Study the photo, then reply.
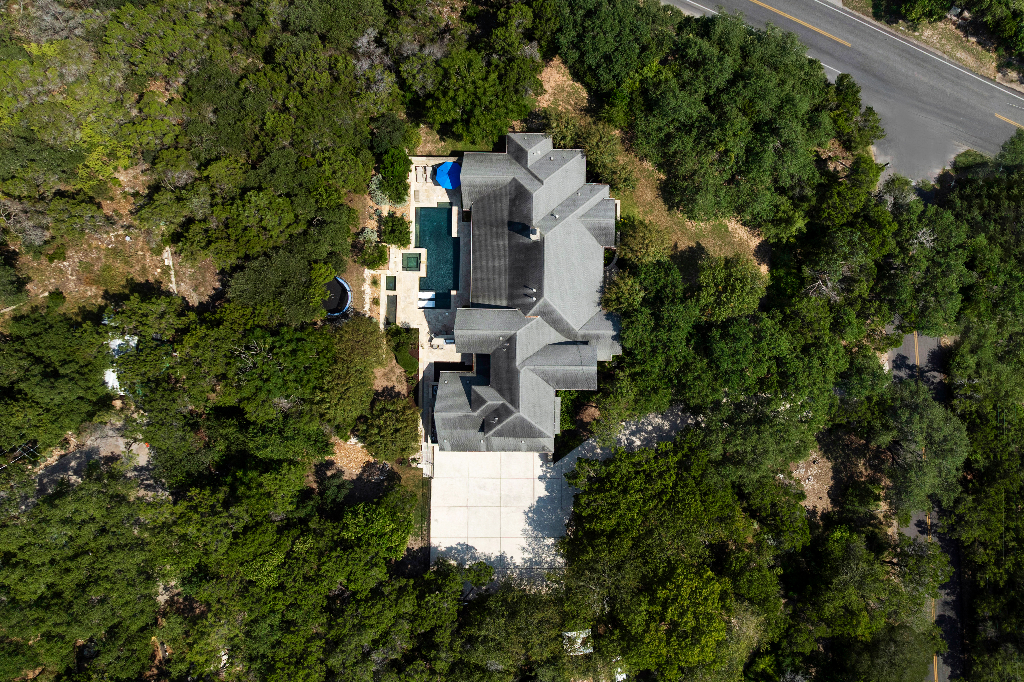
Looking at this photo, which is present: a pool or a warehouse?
pool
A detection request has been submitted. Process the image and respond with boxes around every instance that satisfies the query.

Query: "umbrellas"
[428,160,461,189]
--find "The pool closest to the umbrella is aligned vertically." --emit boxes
[415,202,460,309]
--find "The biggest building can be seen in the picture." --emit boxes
[434,132,623,453]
